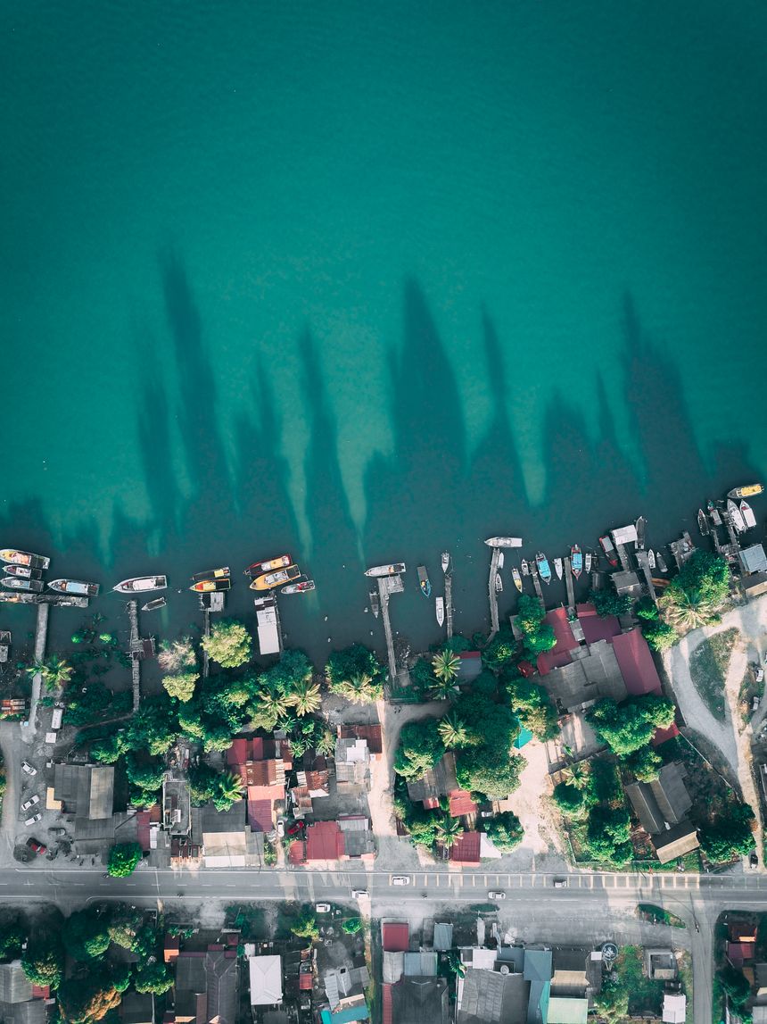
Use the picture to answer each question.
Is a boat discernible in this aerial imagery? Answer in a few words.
Yes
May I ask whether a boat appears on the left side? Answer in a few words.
Yes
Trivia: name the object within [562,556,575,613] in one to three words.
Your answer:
pier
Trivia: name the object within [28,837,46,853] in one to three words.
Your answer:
car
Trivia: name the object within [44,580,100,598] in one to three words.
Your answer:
boat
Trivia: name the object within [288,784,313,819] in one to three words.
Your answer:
house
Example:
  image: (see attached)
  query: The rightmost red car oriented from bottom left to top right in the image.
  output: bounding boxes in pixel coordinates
[287,820,304,834]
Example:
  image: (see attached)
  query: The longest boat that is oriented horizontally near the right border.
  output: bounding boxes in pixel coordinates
[716,484,765,502]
